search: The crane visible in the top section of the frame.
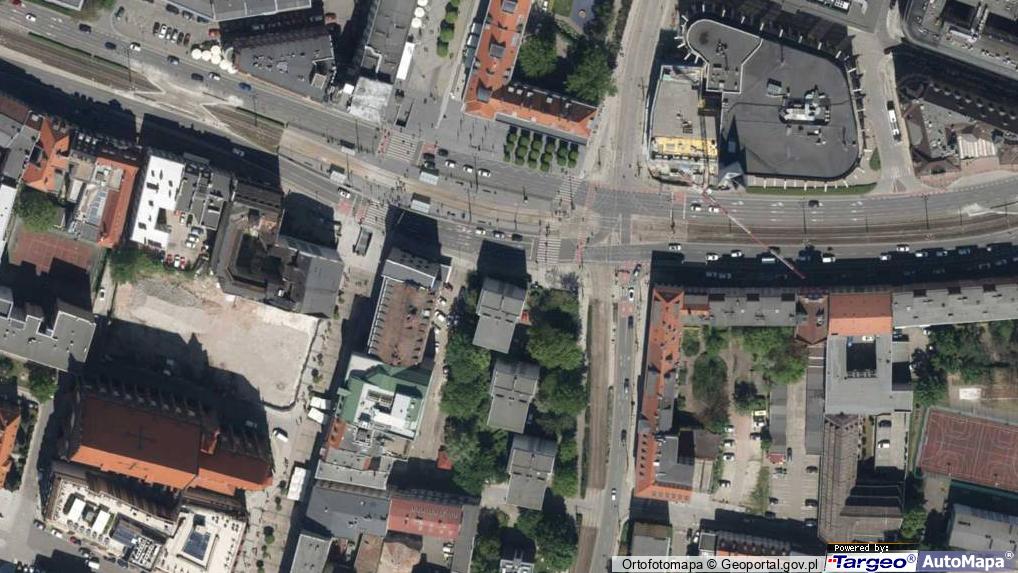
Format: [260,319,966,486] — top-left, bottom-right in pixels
[671,156,802,277]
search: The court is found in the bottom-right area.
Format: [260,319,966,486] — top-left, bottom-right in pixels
[919,408,1018,493]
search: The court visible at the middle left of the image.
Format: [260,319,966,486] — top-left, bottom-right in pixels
[5,230,98,308]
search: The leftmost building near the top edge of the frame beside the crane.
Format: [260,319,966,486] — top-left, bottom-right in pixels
[460,0,597,145]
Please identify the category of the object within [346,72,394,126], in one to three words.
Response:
building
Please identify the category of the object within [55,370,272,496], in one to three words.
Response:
church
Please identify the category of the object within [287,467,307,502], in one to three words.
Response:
tent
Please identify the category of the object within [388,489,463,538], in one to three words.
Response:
house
